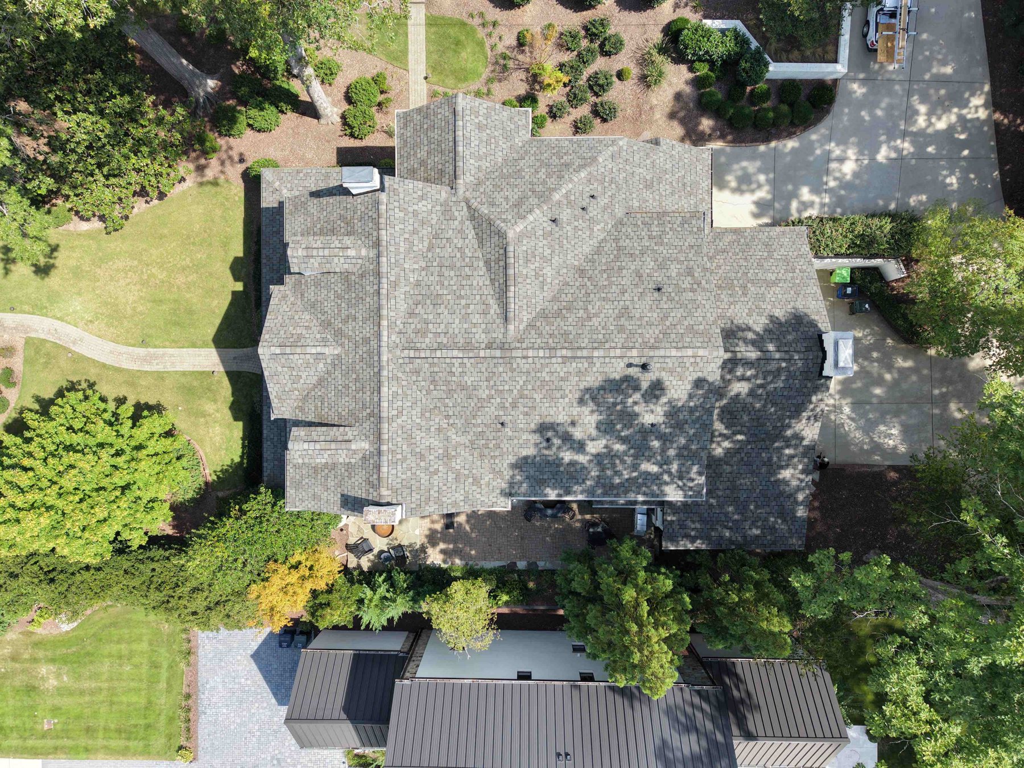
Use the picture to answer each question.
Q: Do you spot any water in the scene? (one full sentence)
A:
No, there is no water in the image.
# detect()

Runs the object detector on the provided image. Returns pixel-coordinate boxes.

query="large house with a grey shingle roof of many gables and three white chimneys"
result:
[259,93,854,550]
